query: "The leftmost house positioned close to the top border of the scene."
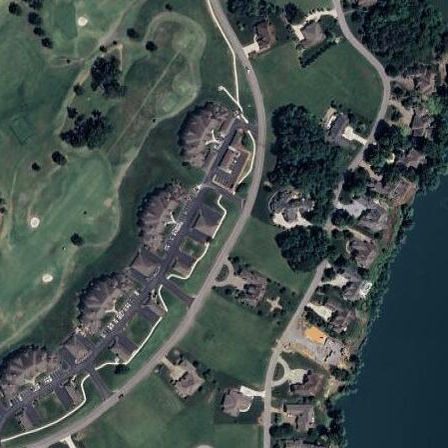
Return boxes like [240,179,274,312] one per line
[255,21,276,49]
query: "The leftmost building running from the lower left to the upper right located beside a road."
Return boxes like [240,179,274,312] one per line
[0,353,63,409]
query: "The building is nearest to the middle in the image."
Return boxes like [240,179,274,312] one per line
[191,209,220,236]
